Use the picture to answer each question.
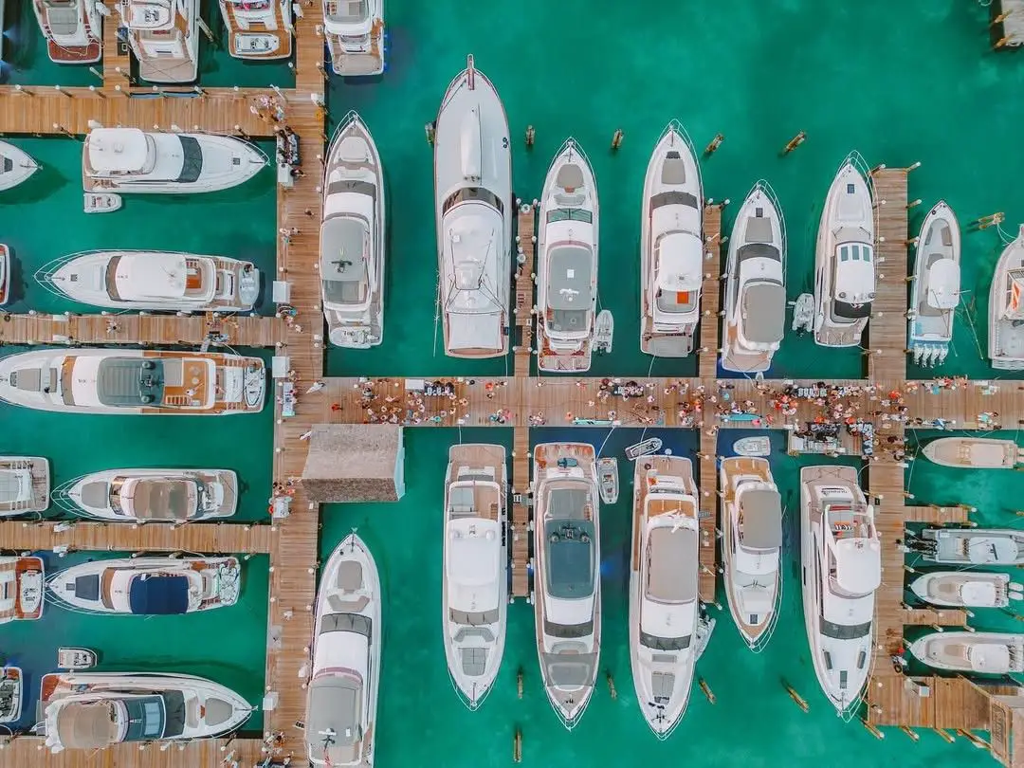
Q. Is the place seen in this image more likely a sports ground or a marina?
marina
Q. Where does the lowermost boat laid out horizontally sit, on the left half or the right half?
left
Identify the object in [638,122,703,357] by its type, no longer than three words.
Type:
boat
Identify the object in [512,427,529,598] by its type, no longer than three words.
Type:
pier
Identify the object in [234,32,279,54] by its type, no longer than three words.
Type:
boat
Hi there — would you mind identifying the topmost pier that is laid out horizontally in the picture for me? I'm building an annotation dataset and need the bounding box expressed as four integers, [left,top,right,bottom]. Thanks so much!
[0,87,295,134]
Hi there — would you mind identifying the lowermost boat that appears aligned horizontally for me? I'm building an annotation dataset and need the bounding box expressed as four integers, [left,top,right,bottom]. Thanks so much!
[41,666,253,747]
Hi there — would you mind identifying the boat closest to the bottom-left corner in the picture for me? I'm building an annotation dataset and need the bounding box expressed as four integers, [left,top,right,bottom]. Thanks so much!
[0,665,25,721]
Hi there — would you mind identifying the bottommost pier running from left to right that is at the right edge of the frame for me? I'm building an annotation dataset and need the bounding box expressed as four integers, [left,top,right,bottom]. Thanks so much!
[868,675,992,729]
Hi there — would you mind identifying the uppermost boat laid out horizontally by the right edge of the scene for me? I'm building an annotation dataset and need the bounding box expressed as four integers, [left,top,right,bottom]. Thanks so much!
[921,438,1024,468]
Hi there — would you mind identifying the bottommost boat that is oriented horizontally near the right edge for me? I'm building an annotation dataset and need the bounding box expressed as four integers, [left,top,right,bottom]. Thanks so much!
[910,630,1024,674]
